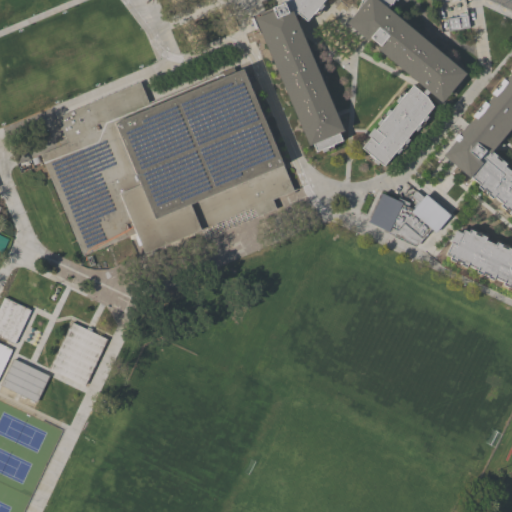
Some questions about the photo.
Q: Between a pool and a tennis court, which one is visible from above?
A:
tennis court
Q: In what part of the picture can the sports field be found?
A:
bottom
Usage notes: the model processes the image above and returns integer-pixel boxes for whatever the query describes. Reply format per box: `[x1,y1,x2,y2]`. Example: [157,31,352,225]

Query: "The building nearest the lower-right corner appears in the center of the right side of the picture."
[447,230,512,288]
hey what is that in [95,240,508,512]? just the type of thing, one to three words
sports field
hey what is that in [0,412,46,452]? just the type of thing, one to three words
tennis court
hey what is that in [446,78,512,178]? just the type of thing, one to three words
building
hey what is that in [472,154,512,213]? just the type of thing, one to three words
building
